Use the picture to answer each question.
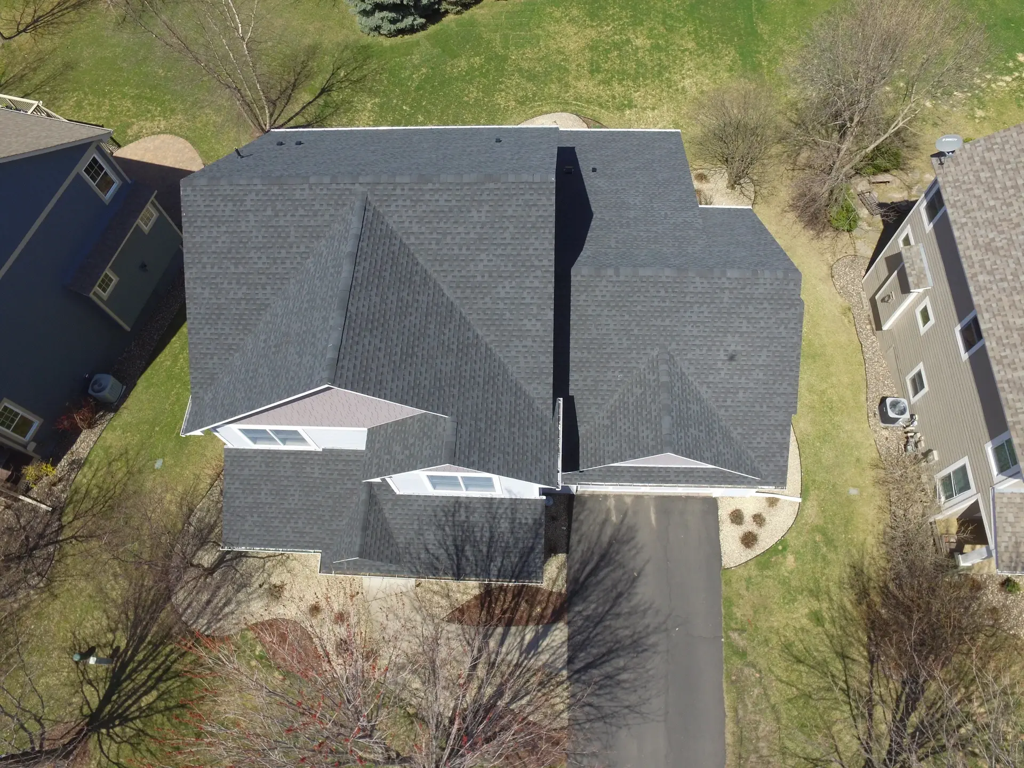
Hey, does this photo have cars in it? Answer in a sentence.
No, there appears to be no car in this shot.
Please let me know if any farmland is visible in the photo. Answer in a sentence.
No, the picture contains no farmland.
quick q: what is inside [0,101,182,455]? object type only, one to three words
house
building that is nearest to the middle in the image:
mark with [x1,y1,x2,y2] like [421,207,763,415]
[176,128,805,585]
